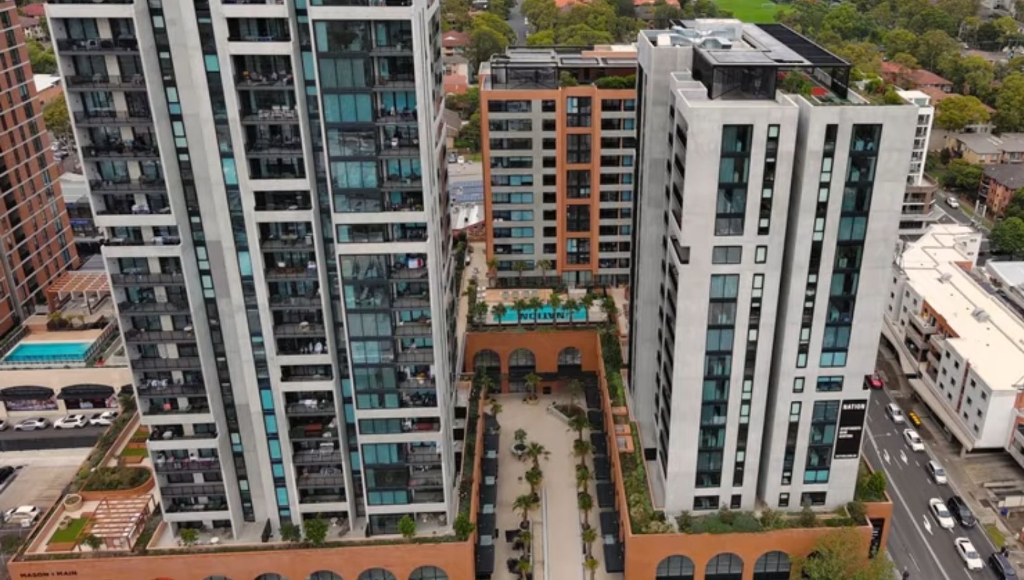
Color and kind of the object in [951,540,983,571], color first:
white car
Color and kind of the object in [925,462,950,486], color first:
gray car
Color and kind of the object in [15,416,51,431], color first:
gray car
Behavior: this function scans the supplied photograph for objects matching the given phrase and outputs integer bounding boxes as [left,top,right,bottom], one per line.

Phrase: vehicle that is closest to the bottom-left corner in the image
[1,505,41,526]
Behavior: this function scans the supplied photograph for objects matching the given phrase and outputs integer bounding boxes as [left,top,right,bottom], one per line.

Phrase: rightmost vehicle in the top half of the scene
[945,194,959,208]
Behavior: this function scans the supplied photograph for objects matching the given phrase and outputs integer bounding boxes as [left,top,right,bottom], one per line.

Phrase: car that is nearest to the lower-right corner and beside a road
[988,553,1020,580]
